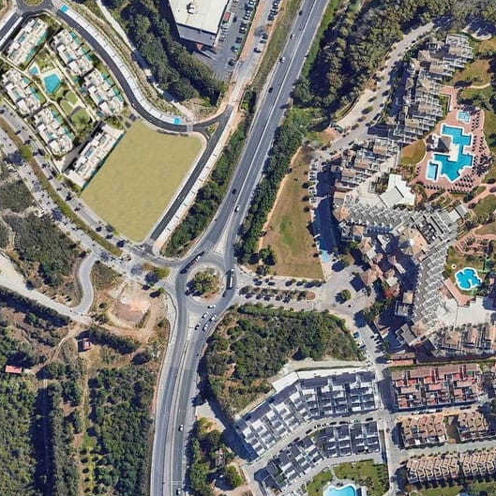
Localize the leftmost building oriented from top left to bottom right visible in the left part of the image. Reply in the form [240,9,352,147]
[1,70,41,113]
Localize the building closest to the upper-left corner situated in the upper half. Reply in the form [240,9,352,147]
[7,16,48,65]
